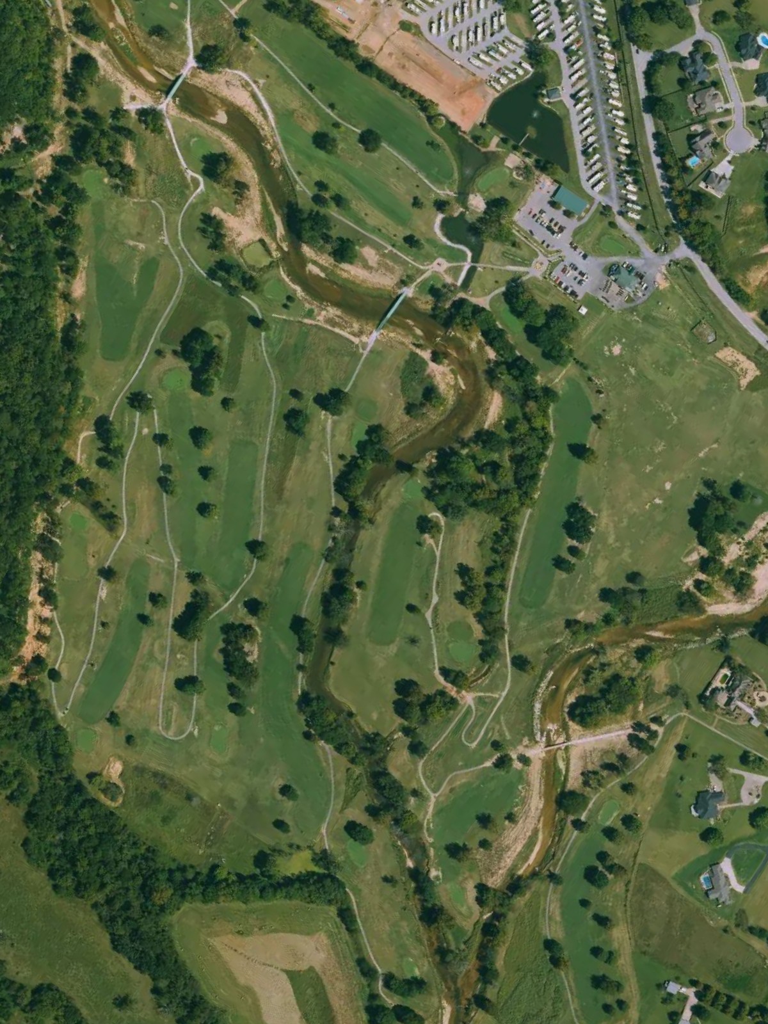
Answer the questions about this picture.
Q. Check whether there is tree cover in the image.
Yes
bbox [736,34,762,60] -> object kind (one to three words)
house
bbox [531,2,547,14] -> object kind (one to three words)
vehicle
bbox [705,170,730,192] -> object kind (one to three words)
house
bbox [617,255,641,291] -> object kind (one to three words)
building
